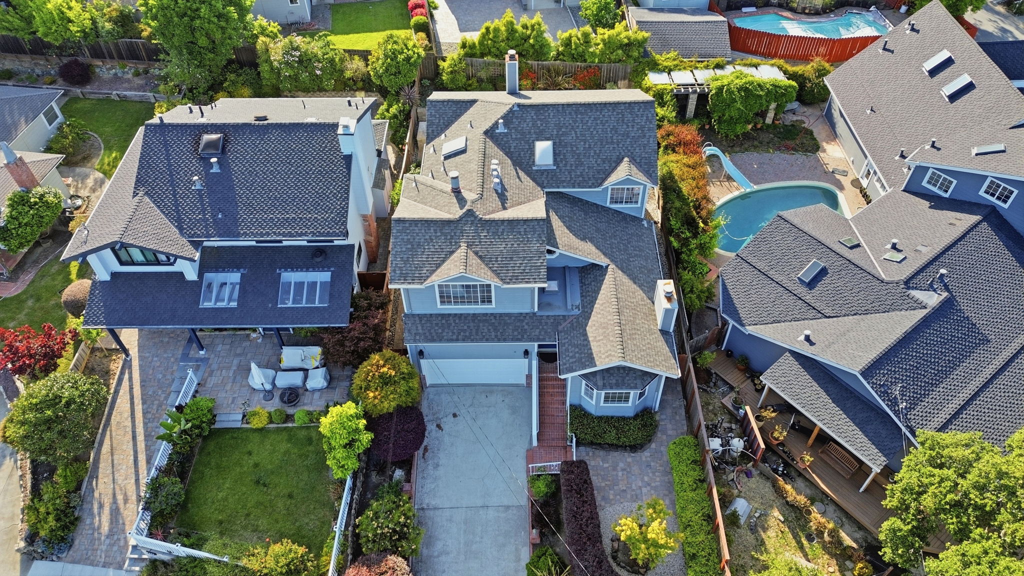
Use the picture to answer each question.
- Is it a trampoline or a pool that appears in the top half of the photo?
pool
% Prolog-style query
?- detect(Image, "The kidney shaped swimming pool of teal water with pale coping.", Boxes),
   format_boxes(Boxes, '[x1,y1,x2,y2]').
[713,181,854,259]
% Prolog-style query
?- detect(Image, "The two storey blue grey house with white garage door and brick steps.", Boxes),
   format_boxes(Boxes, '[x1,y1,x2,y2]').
[388,47,684,423]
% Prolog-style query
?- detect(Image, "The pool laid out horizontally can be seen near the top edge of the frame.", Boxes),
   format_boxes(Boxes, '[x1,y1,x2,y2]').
[732,9,891,46]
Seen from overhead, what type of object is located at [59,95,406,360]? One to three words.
house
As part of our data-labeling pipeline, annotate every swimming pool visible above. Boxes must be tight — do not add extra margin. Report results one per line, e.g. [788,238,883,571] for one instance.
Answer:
[713,181,854,259]
[732,9,891,46]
